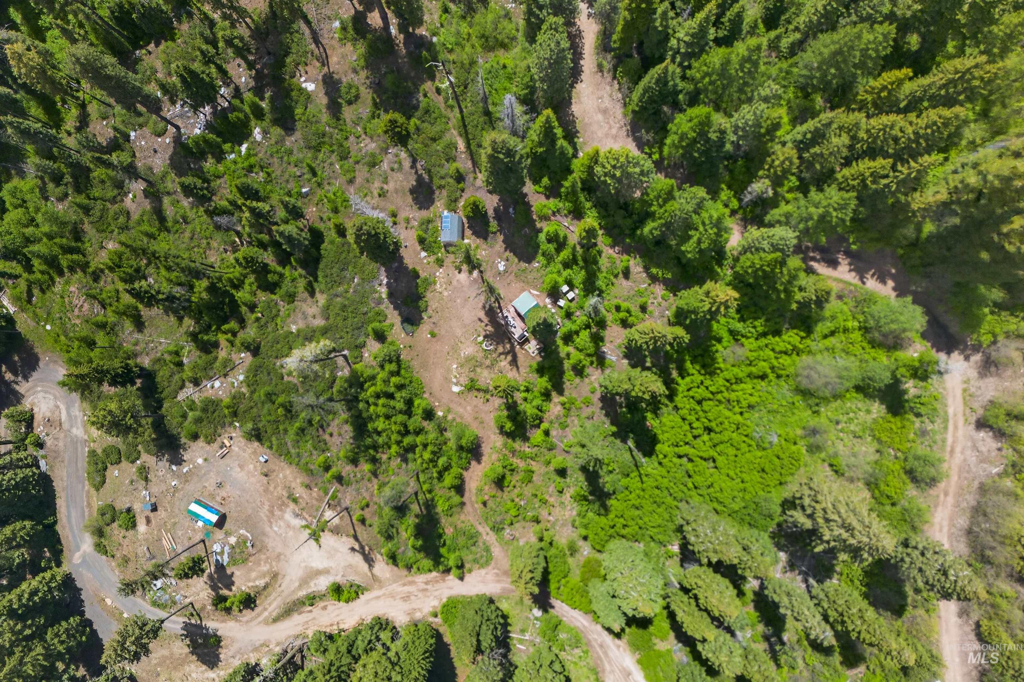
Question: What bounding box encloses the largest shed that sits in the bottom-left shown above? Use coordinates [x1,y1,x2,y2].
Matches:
[189,497,228,527]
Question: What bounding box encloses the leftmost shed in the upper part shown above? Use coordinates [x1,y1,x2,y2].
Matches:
[440,213,464,244]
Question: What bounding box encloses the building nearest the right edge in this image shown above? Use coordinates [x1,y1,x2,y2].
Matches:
[510,286,541,318]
